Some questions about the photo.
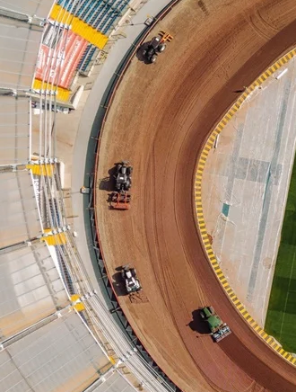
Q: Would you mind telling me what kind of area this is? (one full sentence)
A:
This looks like a sports ground.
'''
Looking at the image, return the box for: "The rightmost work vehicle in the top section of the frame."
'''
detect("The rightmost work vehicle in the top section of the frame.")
[138,30,176,59]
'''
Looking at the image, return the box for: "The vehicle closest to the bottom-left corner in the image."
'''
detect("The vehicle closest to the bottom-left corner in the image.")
[116,255,144,297]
